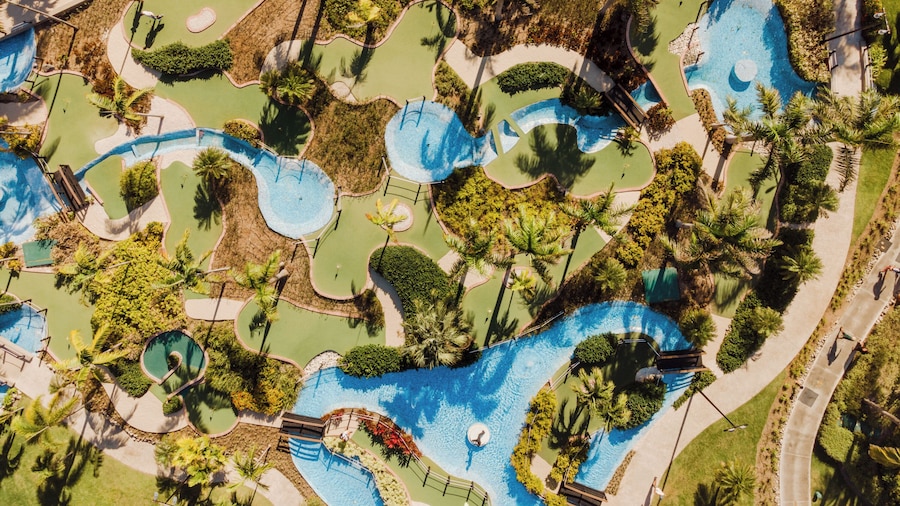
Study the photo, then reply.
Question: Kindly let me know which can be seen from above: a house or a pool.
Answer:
pool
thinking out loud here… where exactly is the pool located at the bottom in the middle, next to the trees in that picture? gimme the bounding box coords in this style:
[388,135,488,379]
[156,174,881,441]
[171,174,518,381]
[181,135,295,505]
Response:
[289,301,698,506]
